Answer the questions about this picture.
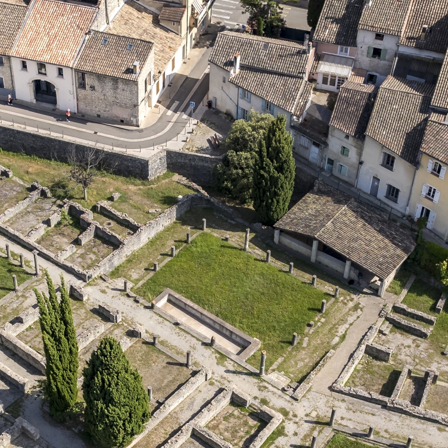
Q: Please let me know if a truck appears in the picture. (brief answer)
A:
No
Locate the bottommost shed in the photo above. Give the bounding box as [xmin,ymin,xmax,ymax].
[269,197,419,299]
